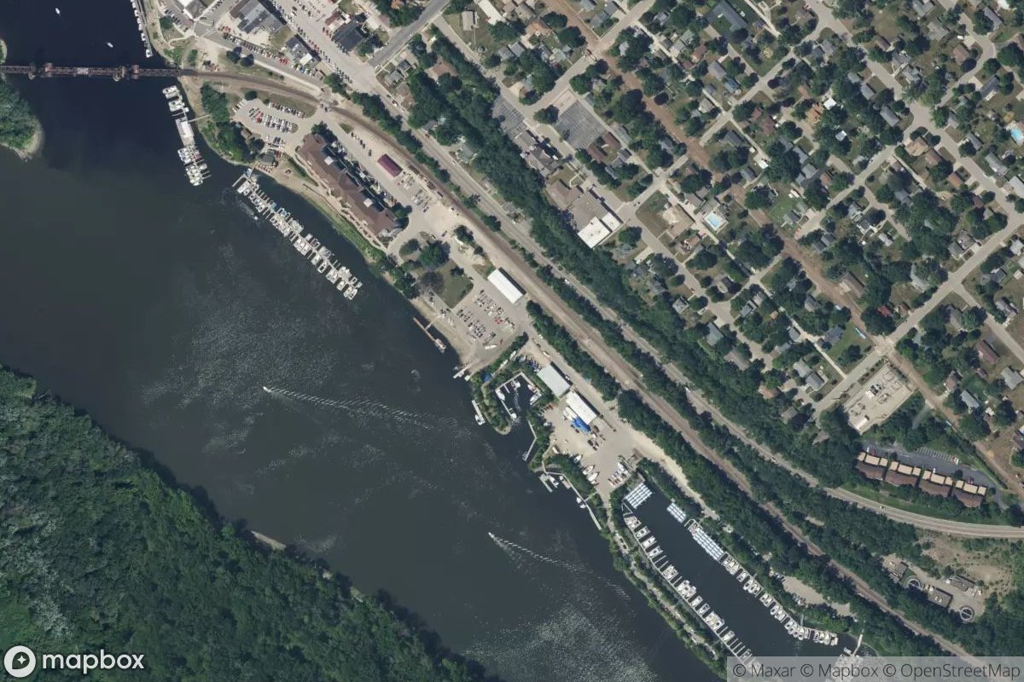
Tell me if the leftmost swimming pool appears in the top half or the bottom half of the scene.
top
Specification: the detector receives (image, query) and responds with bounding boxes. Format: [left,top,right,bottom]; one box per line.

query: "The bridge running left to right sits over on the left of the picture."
[0,61,184,83]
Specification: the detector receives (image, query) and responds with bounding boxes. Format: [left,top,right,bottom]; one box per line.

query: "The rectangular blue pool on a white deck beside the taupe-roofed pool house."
[702,210,730,231]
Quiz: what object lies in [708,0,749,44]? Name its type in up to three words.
building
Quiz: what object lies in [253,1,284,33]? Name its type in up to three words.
building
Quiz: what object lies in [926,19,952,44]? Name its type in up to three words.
house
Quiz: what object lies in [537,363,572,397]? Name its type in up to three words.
shed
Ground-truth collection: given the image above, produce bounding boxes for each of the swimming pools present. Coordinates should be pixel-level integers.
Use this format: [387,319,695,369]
[702,210,730,231]
[1005,120,1024,149]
